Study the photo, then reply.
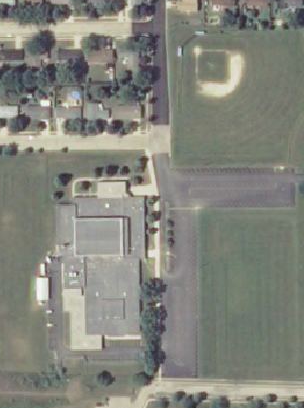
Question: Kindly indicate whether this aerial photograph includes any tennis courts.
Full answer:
No, I can't see a single tennis court in this photo.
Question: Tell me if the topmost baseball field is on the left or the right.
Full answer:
The topmost baseball field sits on the right side.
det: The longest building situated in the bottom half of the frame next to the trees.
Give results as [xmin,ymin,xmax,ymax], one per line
[56,181,146,351]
